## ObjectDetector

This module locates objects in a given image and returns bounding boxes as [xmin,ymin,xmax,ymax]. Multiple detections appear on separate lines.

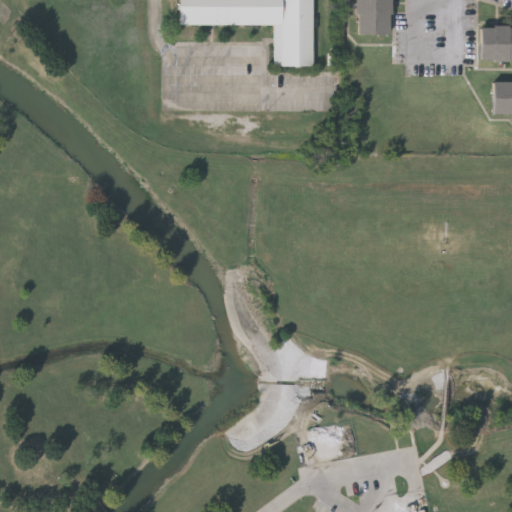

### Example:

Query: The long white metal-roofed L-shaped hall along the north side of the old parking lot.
[180,0,314,66]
